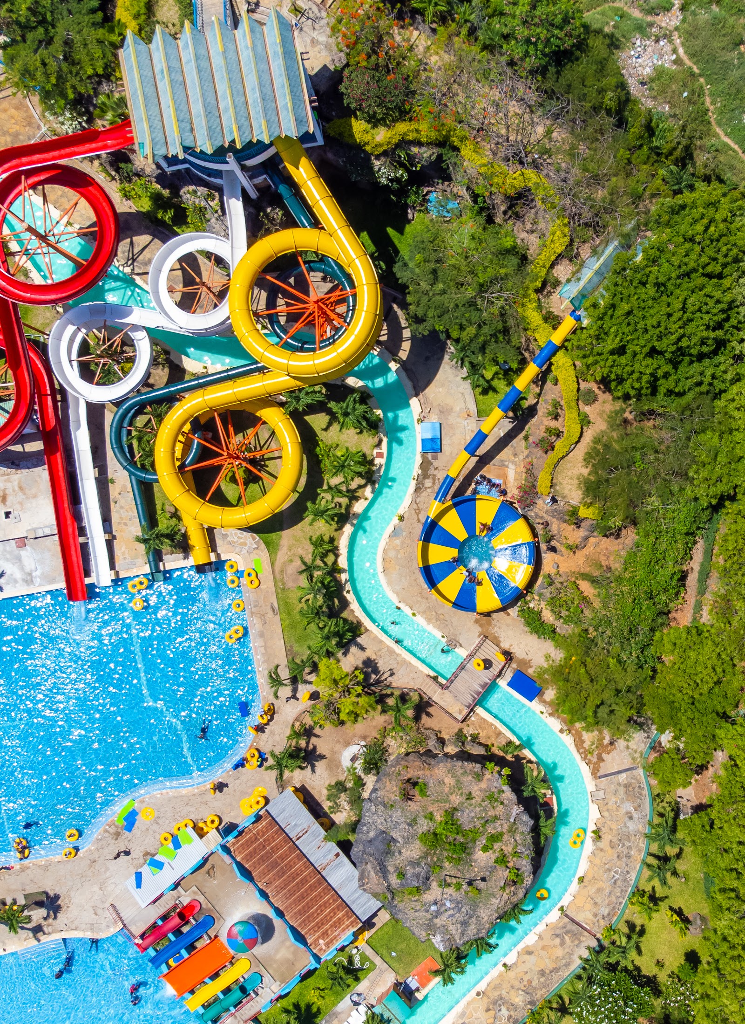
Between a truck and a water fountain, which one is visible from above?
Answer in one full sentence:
Visible in the photo is a water fountain.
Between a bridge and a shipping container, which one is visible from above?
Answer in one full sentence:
Of the two, only a bridge appears.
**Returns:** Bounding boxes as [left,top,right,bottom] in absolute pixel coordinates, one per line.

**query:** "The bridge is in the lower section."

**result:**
[416,636,512,725]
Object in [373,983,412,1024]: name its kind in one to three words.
shed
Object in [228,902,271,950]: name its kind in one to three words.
fountain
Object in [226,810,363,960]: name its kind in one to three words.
building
